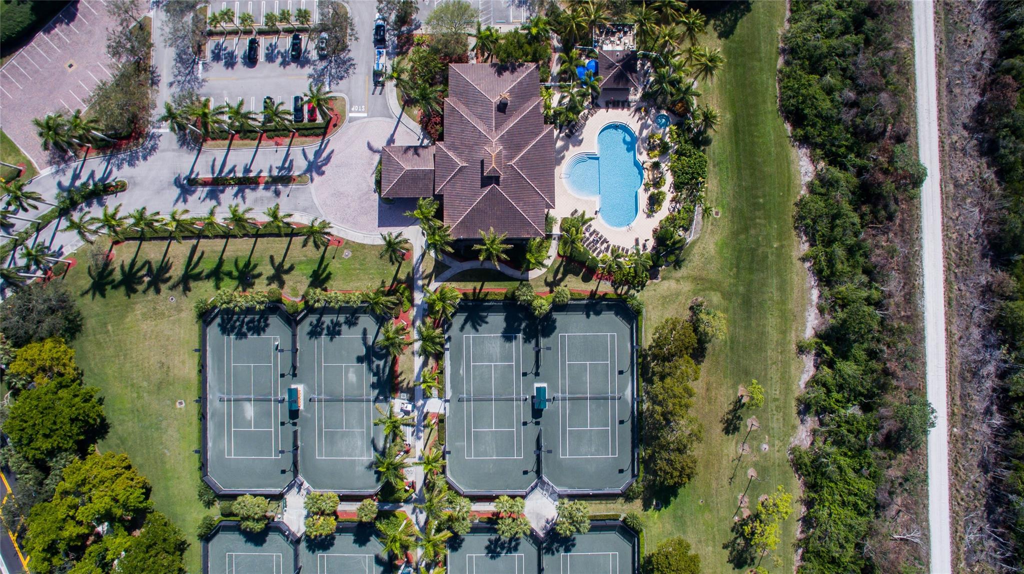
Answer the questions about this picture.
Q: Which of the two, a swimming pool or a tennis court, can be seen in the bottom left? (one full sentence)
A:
Visible in the bottom left is a tennis court.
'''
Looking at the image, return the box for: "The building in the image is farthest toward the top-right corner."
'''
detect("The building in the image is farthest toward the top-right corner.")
[598,49,638,90]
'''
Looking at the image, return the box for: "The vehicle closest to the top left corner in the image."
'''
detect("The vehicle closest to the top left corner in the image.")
[244,36,258,62]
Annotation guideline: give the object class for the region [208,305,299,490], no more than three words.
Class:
tennis court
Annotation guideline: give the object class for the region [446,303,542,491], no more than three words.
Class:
tennis court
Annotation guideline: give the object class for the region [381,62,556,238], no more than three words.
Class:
building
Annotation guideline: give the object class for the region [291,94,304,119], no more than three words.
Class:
vehicle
